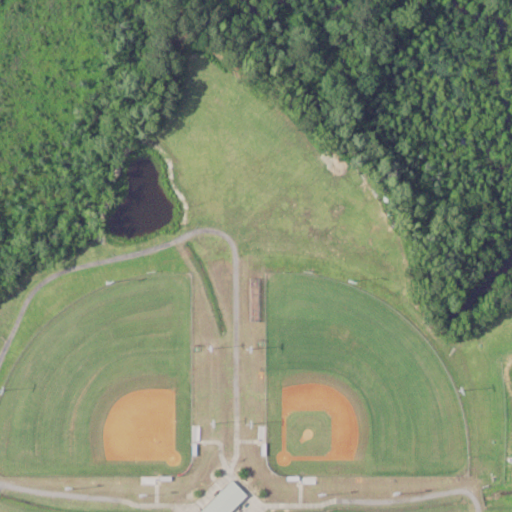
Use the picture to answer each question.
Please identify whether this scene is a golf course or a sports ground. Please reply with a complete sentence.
This looks like a sports ground.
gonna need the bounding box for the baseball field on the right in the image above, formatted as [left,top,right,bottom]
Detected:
[266,272,470,476]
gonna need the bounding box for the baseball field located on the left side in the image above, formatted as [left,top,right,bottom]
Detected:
[0,272,192,474]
